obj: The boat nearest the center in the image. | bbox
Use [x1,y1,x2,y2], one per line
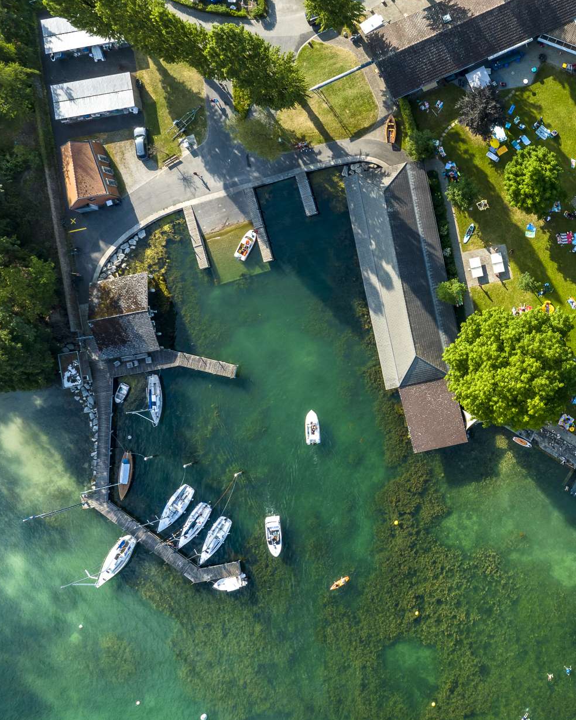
[306,409,321,447]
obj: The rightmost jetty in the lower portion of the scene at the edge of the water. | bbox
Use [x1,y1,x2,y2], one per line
[193,553,253,587]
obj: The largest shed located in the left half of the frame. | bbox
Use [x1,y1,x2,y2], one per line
[88,273,170,358]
